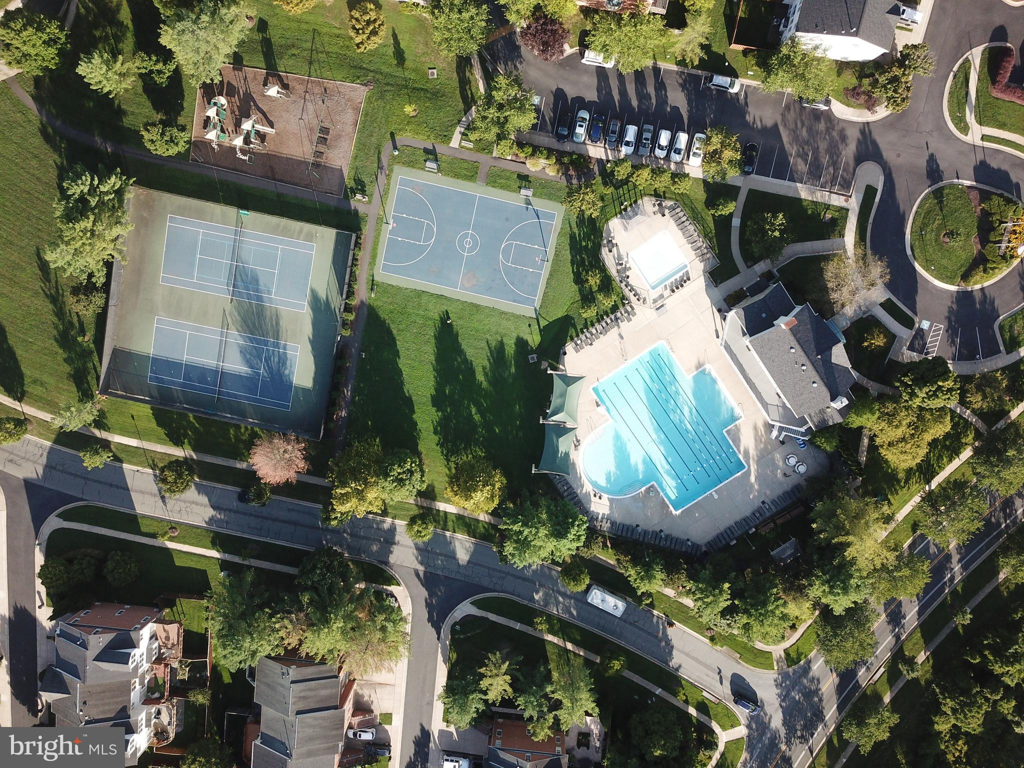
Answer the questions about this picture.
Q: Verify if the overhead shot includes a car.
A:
Yes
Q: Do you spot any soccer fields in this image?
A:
No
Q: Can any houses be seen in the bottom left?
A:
Yes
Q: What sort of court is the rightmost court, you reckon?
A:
basketball court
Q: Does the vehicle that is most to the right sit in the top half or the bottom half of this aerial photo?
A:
top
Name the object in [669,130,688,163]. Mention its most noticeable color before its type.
white car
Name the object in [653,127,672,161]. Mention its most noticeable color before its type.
white car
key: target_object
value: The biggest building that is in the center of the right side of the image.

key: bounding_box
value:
[717,282,855,445]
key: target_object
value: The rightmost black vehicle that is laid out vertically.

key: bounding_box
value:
[741,142,759,176]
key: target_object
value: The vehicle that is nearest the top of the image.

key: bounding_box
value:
[907,6,928,27]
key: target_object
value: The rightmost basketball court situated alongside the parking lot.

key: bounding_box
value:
[374,166,565,318]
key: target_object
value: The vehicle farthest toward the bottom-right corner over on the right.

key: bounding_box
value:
[732,694,761,715]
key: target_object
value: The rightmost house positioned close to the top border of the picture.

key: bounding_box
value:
[771,0,910,72]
